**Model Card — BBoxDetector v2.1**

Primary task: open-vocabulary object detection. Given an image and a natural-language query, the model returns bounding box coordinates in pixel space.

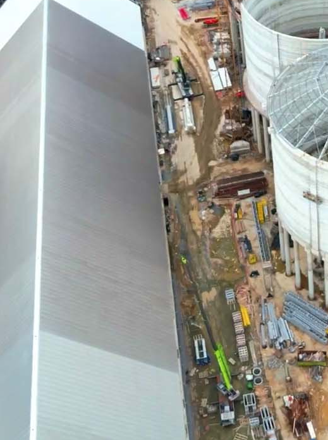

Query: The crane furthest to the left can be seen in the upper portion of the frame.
[167,52,205,98]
